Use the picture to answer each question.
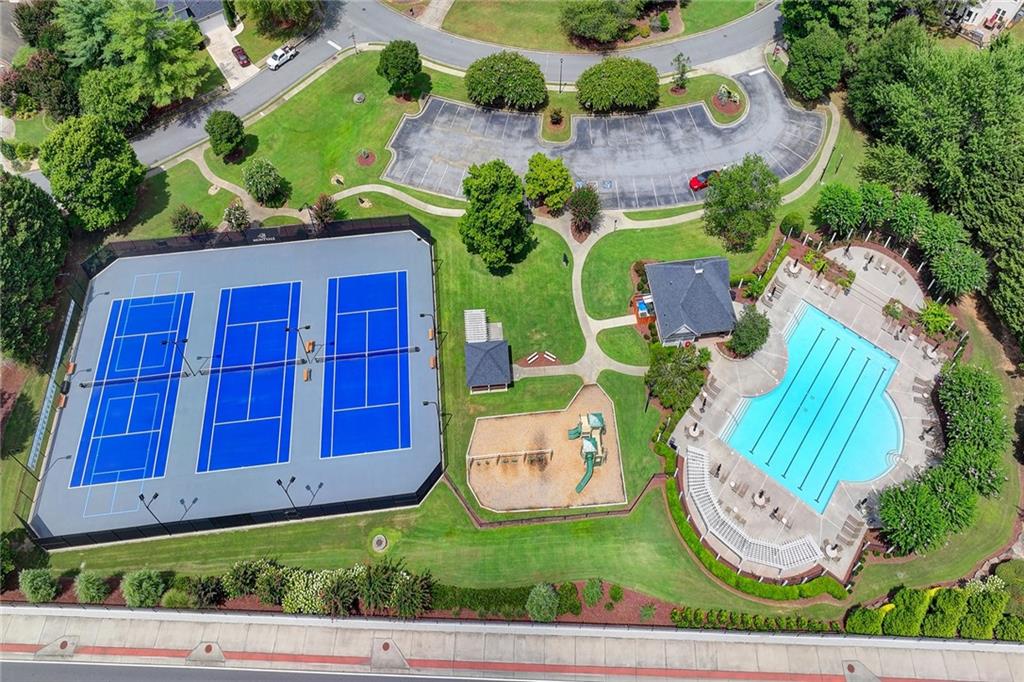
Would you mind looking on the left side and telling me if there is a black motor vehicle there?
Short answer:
No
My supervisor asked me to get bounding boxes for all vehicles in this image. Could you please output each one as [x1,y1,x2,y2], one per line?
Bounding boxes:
[232,46,251,67]
[266,45,300,69]
[690,170,721,189]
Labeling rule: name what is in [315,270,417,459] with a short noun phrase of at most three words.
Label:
tennis court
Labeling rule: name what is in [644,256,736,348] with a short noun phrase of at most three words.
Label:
building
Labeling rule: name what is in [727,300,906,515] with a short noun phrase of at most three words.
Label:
swimming pool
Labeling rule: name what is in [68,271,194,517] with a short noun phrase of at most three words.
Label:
tennis court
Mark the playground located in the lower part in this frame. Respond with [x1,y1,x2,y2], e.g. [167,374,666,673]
[466,382,628,513]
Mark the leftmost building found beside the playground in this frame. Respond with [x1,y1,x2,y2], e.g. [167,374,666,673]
[465,339,511,398]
